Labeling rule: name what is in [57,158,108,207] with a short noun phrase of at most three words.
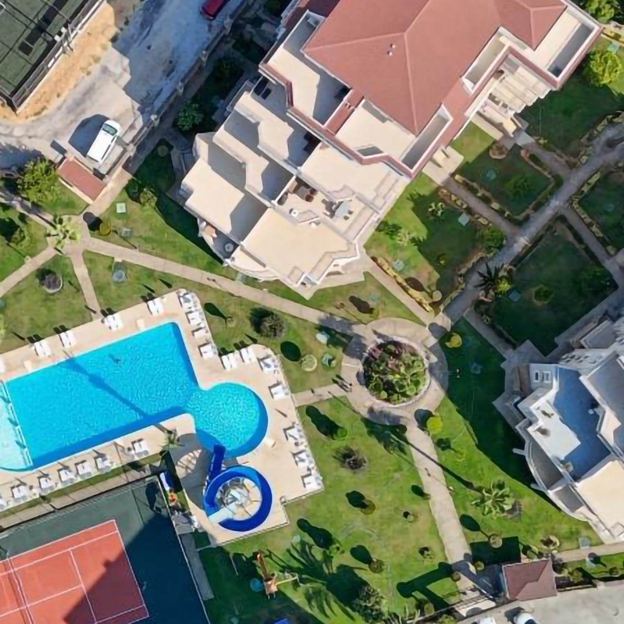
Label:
shed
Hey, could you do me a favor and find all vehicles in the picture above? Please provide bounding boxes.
[512,608,538,624]
[85,118,120,164]
[201,0,231,22]
[478,614,498,624]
